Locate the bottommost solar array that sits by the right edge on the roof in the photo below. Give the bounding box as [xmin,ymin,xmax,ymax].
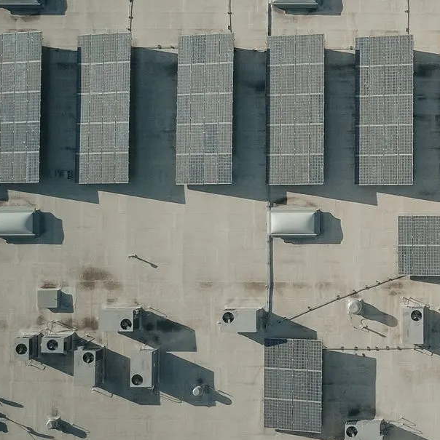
[398,216,440,276]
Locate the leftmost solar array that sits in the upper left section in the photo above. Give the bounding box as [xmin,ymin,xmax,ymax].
[0,32,43,184]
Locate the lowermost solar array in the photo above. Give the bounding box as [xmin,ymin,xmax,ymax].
[264,339,322,433]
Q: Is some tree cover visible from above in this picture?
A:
No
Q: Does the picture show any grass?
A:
No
